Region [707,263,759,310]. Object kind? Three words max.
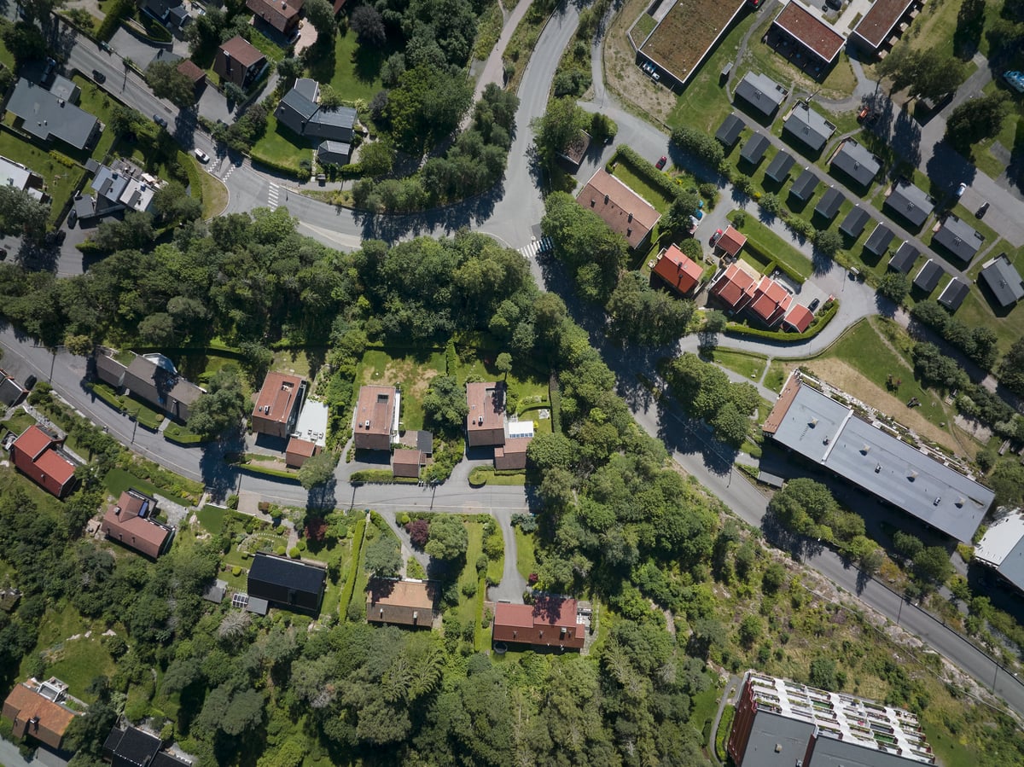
house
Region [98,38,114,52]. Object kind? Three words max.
car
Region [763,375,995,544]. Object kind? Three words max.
building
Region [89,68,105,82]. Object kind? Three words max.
car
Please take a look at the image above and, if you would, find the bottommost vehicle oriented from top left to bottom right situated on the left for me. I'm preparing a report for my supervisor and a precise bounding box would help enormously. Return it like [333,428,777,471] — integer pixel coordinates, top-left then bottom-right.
[193,148,209,161]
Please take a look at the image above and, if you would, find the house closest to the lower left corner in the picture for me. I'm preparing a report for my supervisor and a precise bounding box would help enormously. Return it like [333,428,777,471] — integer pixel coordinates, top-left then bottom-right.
[1,673,81,751]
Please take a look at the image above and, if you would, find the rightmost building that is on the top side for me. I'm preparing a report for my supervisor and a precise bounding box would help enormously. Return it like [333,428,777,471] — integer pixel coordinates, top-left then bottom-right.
[976,256,1024,306]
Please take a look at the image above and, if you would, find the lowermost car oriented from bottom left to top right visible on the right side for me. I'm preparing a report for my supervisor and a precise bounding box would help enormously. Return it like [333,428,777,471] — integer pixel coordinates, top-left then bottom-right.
[808,297,822,312]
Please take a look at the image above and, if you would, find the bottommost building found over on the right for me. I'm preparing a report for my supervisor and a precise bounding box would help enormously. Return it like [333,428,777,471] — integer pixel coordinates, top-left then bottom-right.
[722,669,937,767]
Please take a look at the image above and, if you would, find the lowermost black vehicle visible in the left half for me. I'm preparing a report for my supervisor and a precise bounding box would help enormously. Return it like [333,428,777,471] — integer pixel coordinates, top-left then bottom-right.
[22,374,36,390]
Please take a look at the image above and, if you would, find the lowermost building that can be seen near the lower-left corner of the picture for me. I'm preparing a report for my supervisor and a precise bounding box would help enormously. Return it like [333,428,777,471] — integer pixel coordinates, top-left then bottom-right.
[104,719,195,767]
